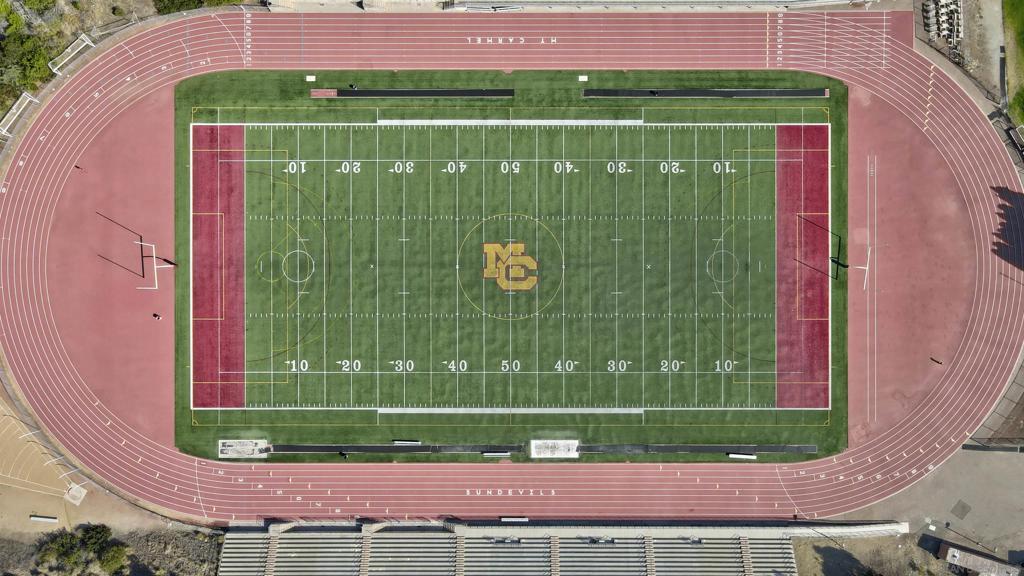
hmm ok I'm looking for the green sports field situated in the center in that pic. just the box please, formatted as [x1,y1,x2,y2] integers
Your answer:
[175,68,849,464]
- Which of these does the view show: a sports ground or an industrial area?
sports ground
